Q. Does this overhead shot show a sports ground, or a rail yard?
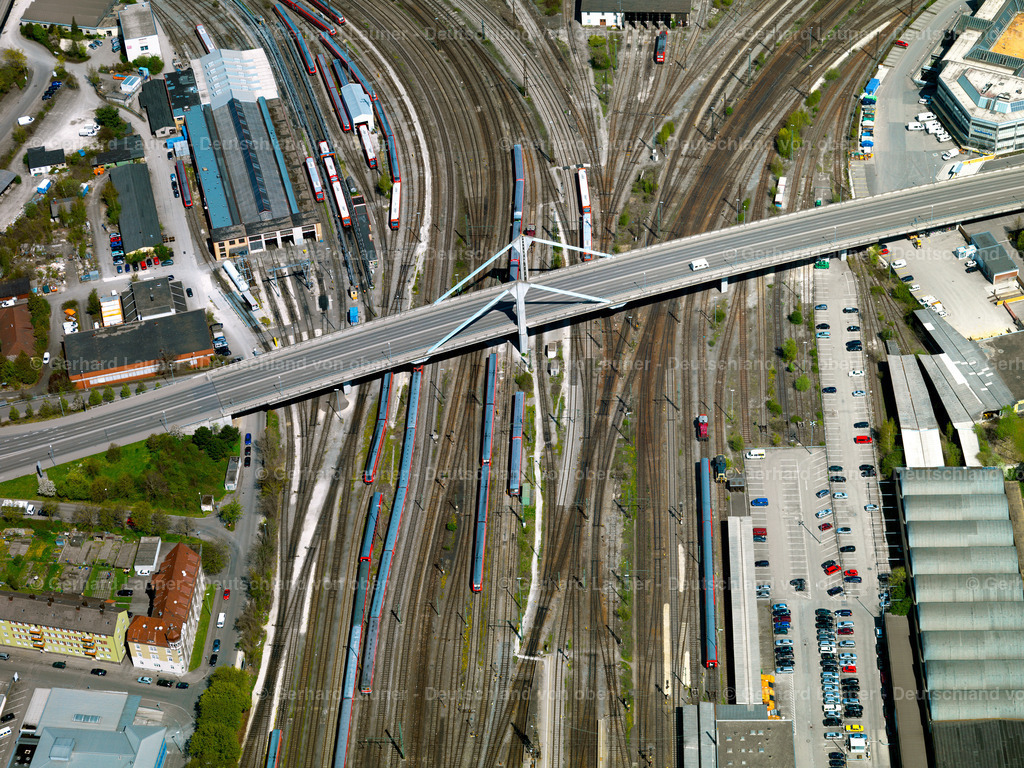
rail yard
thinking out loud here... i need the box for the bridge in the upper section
[224,163,1024,412]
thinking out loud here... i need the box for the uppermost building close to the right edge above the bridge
[911,0,1024,165]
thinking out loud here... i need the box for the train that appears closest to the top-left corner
[195,25,215,58]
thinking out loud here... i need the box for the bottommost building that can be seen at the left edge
[12,688,170,768]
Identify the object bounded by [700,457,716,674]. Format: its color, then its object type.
blue train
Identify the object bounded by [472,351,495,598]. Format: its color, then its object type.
blue train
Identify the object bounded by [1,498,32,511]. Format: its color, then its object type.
white vehicle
